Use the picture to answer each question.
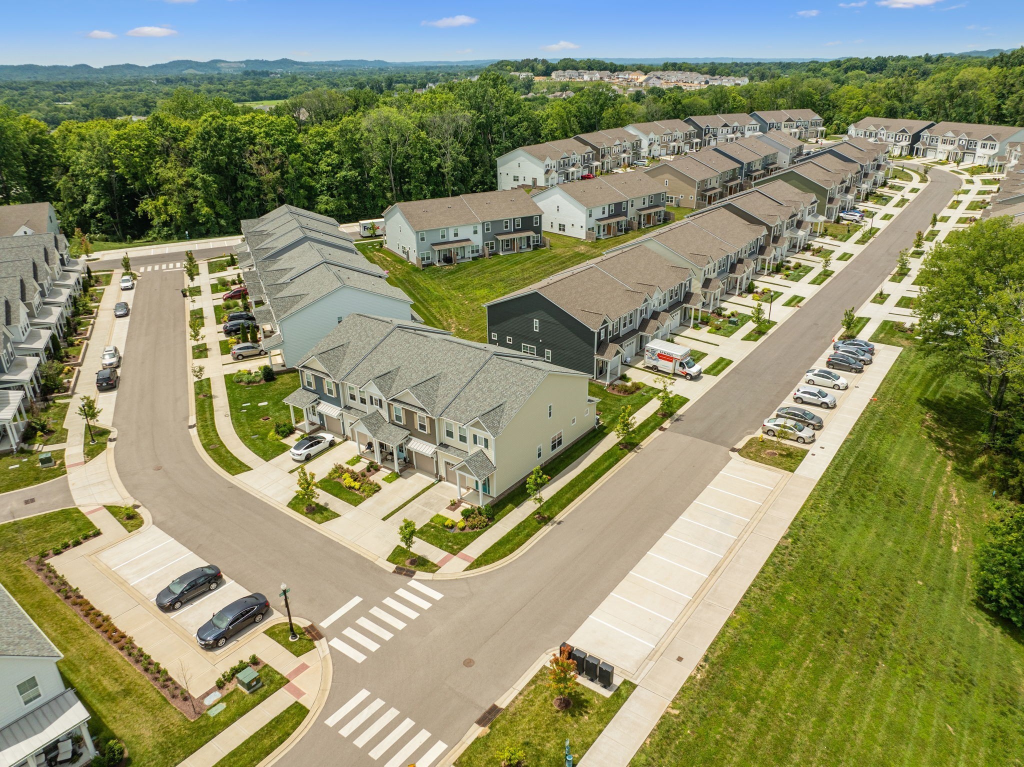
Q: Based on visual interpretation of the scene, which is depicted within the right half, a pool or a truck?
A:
truck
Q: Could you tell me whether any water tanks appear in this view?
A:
No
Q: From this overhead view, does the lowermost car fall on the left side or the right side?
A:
left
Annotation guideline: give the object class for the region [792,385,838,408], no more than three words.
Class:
car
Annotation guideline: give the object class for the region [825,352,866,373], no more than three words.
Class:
car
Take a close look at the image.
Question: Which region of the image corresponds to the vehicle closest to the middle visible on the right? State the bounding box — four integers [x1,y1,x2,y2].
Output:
[640,336,704,378]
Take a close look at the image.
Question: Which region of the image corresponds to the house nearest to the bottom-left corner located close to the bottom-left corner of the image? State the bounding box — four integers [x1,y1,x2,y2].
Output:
[0,595,101,767]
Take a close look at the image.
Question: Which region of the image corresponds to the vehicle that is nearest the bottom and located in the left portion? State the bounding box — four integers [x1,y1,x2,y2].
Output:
[192,591,269,650]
